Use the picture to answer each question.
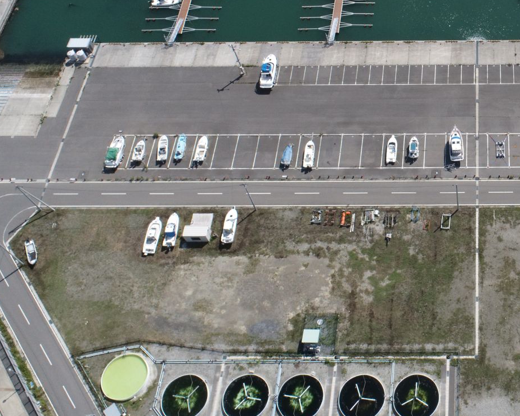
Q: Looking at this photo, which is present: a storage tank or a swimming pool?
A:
storage tank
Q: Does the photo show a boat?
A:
Yes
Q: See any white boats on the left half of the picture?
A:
Yes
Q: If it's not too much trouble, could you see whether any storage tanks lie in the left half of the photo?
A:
Yes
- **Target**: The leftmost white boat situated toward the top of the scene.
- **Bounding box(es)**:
[106,128,125,169]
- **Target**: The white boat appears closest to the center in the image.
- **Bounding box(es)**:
[222,206,237,245]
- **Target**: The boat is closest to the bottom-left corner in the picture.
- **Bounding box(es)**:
[25,239,37,264]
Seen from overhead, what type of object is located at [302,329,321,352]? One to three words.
shed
